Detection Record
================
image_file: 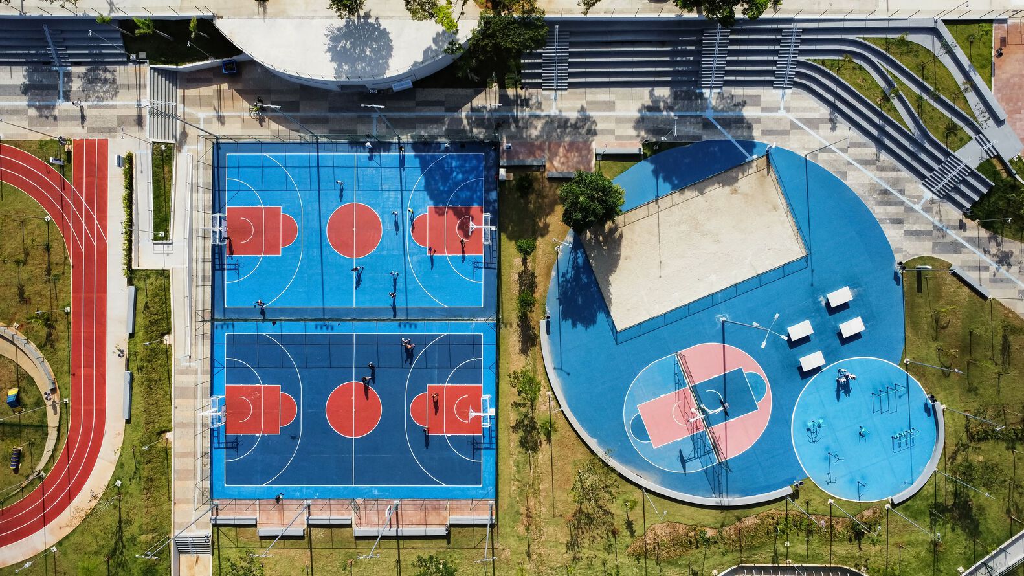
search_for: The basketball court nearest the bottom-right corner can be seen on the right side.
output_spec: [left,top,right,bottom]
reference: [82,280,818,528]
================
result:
[623,343,774,471]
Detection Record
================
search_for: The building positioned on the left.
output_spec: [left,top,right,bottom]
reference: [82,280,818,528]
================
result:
[213,16,480,92]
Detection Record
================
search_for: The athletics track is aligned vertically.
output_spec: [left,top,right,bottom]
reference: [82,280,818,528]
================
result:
[0,139,109,548]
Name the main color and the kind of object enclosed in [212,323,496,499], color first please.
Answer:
blue sports court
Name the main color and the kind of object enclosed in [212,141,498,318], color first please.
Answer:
blue sports court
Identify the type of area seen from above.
sports ground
